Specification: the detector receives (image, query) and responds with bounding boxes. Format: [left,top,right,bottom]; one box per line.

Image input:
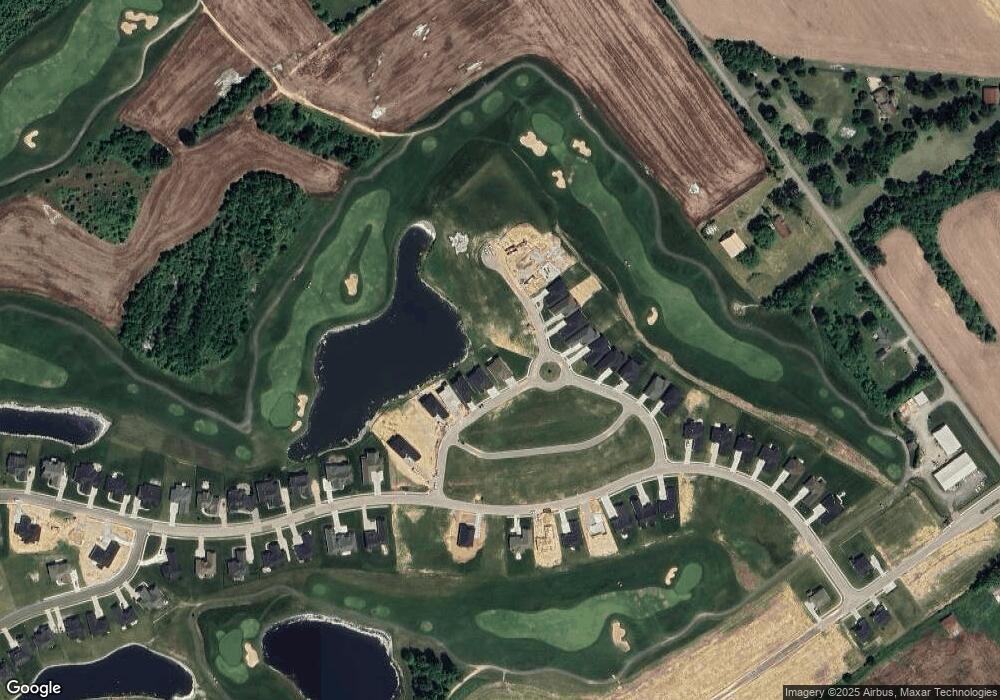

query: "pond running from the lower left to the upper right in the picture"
[289,226,468,460]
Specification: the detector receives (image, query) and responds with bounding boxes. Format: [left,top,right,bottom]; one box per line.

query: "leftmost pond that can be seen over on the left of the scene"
[0,408,102,445]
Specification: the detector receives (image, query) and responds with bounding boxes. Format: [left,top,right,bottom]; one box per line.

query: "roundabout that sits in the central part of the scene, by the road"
[530,352,569,391]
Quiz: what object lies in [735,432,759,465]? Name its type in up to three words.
house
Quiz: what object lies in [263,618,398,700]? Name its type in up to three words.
pond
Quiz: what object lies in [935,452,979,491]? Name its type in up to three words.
shed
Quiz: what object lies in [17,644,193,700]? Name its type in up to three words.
pond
